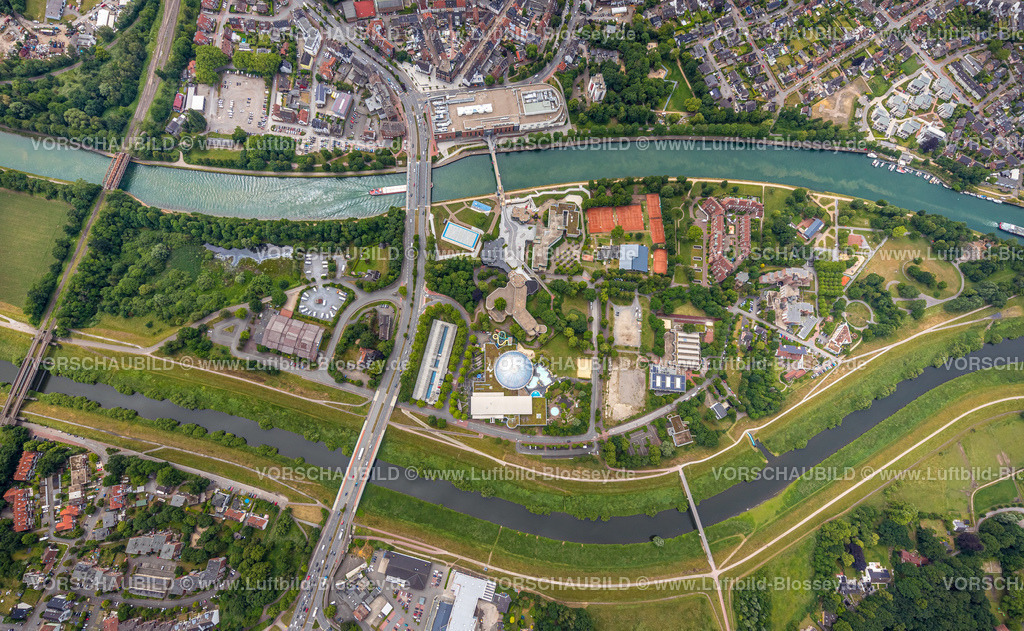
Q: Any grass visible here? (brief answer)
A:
Yes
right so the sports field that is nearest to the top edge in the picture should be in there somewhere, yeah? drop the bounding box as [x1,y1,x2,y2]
[614,310,643,346]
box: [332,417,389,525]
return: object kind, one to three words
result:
bridge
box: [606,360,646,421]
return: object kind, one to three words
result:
sports field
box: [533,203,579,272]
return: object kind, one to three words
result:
building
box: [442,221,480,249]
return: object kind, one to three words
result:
swimming pool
